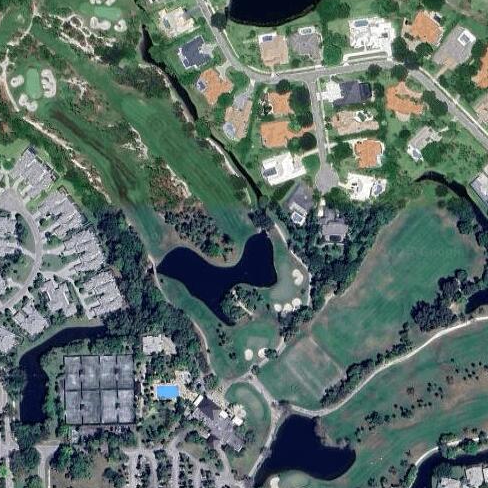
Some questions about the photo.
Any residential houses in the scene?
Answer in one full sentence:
Yes, you can see a residential house in this photo.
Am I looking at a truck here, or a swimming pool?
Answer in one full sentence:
Of the two, only a swimming pool appears.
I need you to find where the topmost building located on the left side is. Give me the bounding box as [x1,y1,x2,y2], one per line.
[158,4,206,37]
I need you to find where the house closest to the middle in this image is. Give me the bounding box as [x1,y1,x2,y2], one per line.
[287,183,317,228]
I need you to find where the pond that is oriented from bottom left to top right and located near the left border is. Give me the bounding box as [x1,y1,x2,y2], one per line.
[20,326,108,425]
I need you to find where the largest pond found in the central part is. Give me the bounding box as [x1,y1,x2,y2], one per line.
[158,233,276,324]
